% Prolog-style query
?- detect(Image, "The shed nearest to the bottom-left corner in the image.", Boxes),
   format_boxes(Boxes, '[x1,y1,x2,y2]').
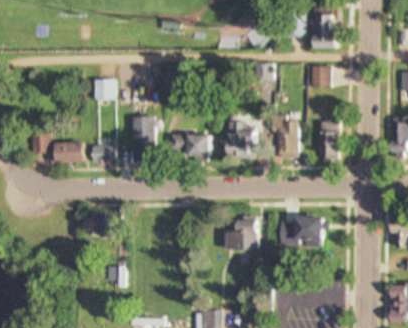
[108,264,130,289]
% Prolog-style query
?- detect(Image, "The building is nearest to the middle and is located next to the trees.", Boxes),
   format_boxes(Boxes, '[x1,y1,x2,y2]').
[171,130,212,162]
